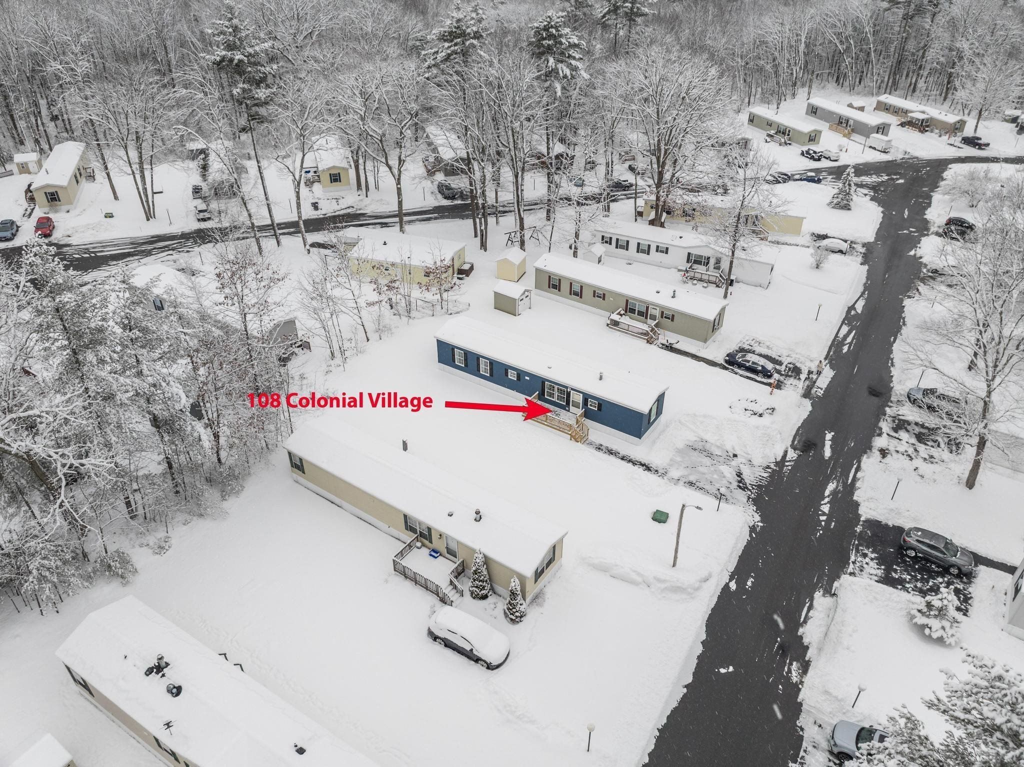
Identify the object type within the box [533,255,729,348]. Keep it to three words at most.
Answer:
house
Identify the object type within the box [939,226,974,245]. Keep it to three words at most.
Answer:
car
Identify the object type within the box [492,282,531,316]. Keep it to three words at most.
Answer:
shed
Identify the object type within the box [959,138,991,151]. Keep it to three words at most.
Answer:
vehicle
